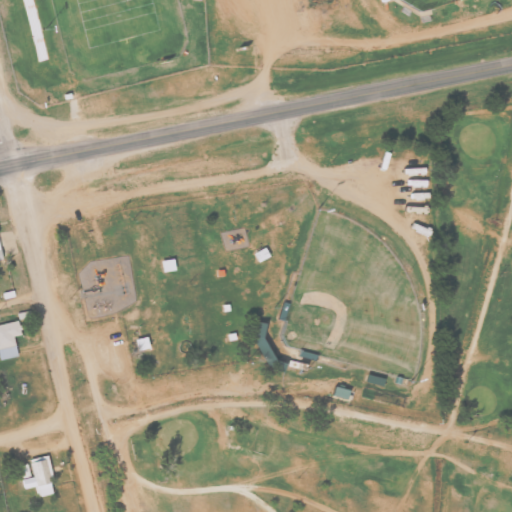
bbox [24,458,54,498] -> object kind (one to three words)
house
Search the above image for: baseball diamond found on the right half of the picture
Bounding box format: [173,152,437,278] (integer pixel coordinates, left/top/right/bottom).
[282,206,424,384]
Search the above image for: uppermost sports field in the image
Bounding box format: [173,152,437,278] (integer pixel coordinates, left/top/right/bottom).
[74,0,164,52]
